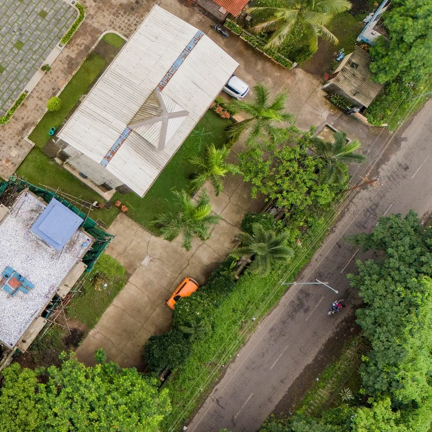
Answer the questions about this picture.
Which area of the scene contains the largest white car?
top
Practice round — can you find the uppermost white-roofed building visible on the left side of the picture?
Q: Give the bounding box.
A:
[54,3,239,201]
